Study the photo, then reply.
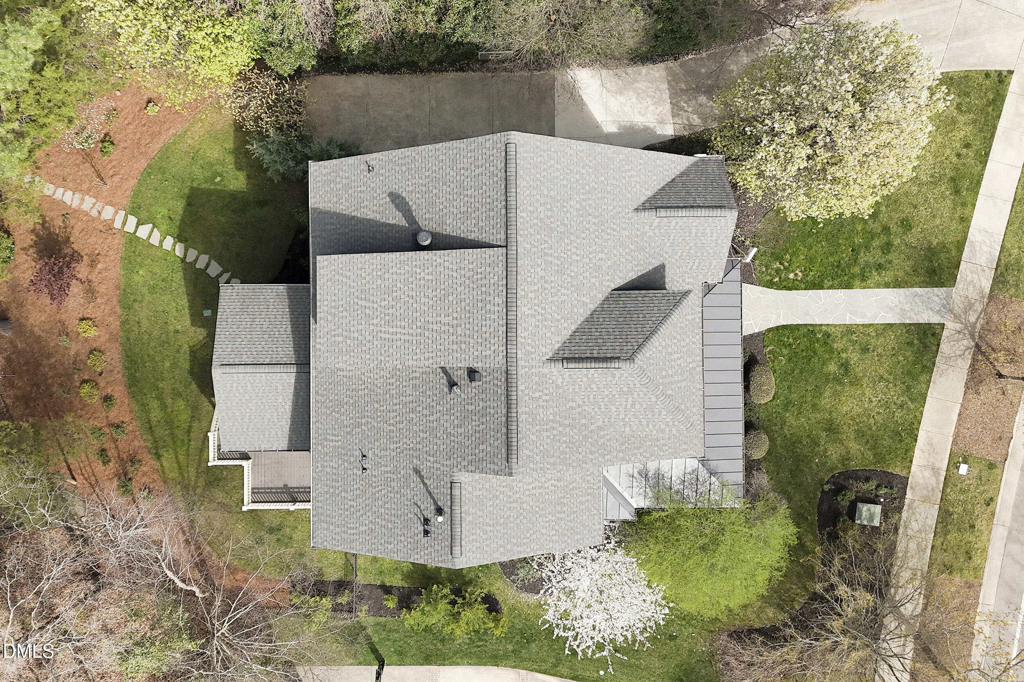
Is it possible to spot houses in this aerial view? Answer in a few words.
Yes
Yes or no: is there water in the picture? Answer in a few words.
No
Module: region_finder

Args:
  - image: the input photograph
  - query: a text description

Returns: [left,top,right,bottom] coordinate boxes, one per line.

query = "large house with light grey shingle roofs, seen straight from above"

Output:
[212,130,757,573]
